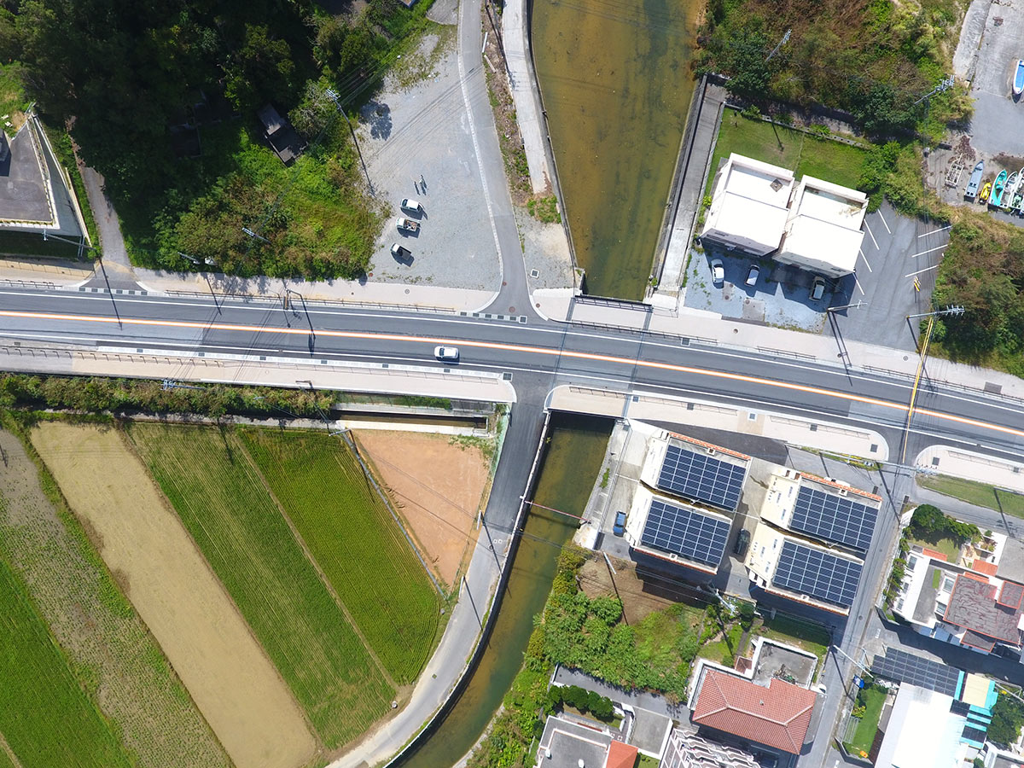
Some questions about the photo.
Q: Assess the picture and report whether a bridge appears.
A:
Yes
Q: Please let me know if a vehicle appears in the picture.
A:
Yes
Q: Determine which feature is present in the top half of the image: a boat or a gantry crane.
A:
boat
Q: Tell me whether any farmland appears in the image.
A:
Yes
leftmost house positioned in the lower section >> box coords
[523,706,638,768]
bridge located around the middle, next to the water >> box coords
[548,293,654,421]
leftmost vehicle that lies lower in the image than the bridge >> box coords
[614,511,626,536]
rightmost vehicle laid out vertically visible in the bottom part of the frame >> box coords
[736,530,751,558]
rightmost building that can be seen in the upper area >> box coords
[767,176,866,280]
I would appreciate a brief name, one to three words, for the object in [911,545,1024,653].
house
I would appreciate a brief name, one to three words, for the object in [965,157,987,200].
boat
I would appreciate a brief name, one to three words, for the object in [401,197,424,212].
vehicle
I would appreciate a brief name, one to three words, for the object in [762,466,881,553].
building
